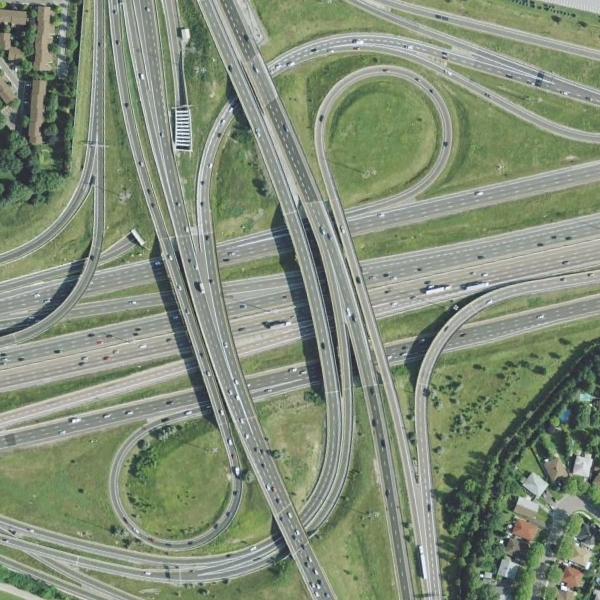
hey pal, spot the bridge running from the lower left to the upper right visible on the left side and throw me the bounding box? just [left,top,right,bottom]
[12,244,102,345]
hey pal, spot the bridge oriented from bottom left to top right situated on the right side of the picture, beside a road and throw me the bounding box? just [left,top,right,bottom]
[417,301,476,384]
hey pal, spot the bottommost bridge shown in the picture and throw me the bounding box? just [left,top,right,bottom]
[271,500,312,557]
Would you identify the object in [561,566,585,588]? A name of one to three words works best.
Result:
house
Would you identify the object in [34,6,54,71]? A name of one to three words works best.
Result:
house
